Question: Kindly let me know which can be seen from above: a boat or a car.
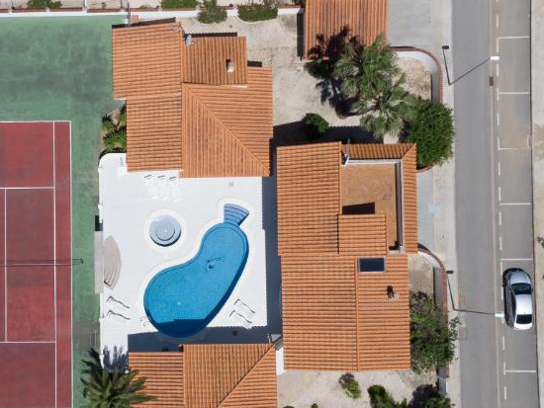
car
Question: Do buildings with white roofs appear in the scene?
No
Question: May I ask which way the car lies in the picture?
vertically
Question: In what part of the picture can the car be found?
bottom right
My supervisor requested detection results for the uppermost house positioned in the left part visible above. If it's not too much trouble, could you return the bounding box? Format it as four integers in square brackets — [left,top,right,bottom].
[112,19,273,177]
